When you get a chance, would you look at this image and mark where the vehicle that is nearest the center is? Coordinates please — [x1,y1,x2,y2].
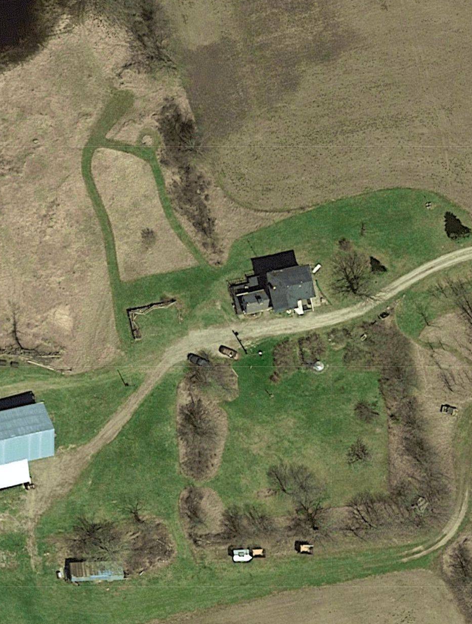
[218,345,238,358]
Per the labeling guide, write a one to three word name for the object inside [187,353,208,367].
vehicle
